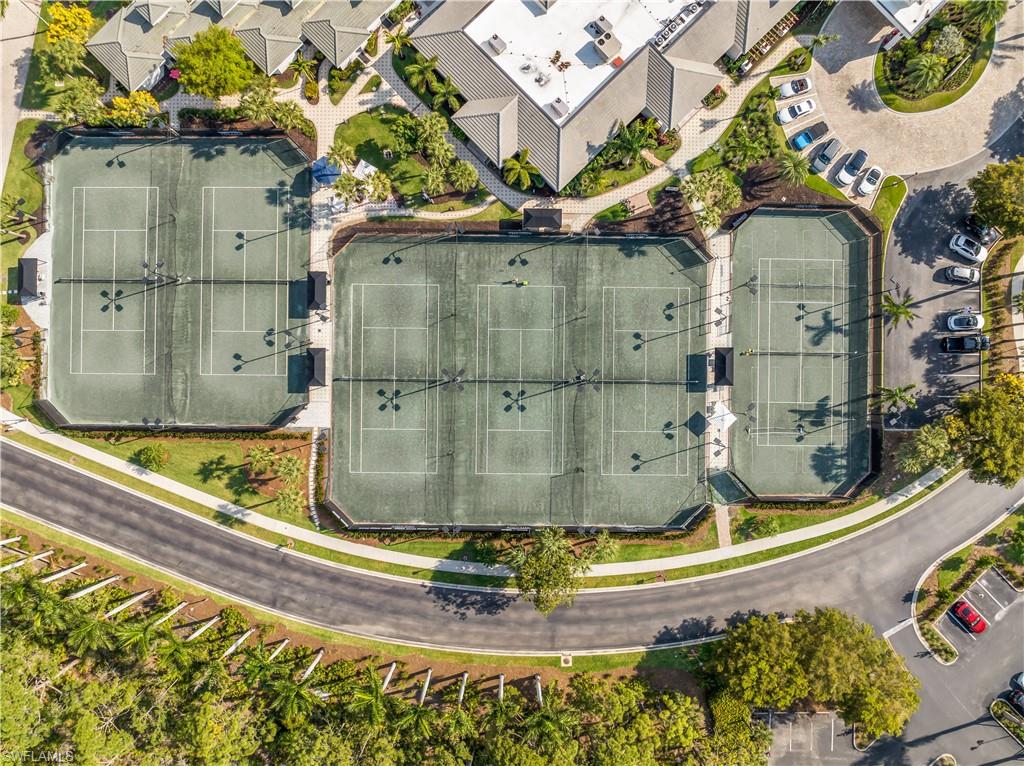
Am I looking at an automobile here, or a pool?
automobile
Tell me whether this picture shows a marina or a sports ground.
sports ground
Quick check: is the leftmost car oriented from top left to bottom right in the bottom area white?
No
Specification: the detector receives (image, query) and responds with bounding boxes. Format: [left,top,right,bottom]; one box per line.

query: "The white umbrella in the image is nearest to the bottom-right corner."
[705,402,737,433]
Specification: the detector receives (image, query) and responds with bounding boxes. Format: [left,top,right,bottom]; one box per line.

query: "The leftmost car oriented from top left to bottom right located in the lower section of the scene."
[949,596,988,634]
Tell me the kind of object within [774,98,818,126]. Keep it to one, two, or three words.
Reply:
car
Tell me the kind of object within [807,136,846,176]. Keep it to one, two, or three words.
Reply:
vehicle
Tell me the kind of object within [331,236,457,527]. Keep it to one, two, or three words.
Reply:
tennis court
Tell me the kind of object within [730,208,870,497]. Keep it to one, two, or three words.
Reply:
tennis court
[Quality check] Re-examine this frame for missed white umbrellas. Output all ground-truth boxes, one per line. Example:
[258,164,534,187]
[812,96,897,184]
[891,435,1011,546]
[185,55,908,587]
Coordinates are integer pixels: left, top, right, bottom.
[705,402,737,433]
[354,161,375,183]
